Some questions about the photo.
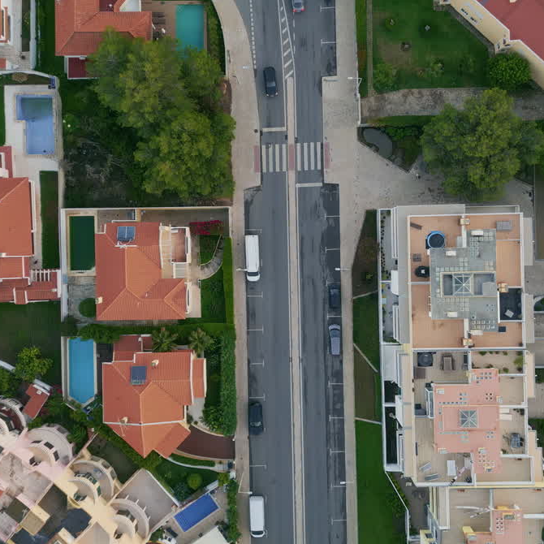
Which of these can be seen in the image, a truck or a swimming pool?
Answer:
swimming pool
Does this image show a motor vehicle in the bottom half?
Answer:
Yes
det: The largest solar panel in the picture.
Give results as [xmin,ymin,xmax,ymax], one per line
[131,366,146,381]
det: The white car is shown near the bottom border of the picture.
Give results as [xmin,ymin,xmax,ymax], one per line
[249,494,265,536]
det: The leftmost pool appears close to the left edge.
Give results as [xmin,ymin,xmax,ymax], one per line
[12,91,58,157]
